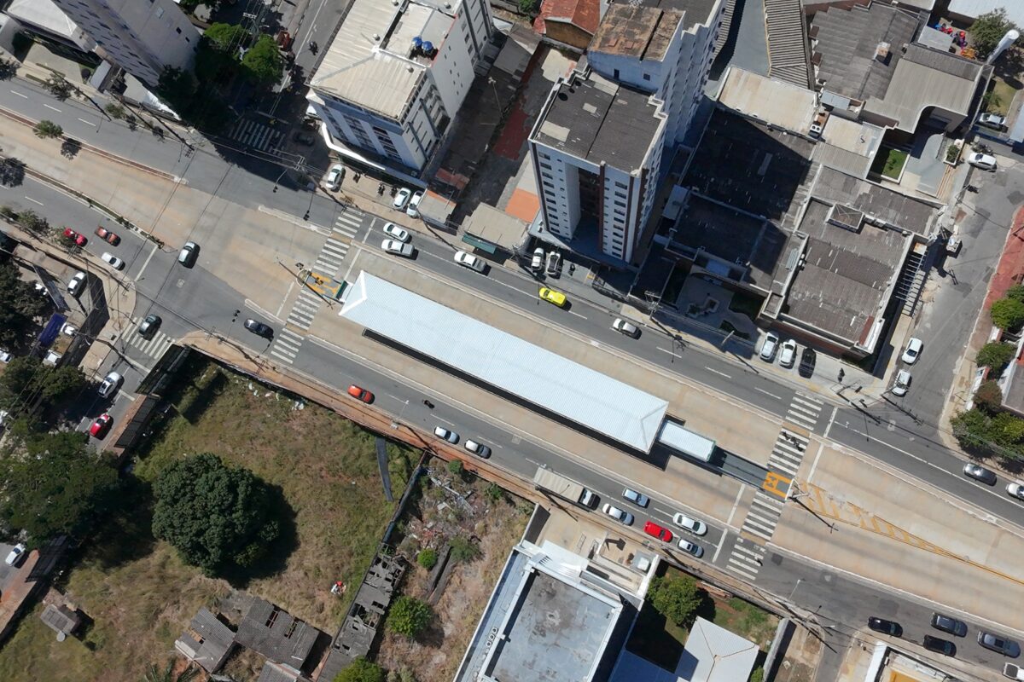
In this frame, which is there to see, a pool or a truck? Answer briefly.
truck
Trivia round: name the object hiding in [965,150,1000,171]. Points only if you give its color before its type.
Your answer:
white car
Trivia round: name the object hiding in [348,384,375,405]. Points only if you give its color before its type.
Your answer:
red car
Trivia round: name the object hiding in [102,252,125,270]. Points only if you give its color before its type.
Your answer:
white car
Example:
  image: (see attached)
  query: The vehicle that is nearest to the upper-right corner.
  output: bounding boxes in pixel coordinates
[975,111,1009,131]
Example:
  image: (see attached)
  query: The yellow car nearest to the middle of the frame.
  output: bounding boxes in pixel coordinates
[539,288,567,308]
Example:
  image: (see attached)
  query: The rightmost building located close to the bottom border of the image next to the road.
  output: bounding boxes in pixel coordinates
[852,636,967,682]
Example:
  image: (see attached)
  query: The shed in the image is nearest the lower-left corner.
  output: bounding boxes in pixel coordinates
[40,605,88,634]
